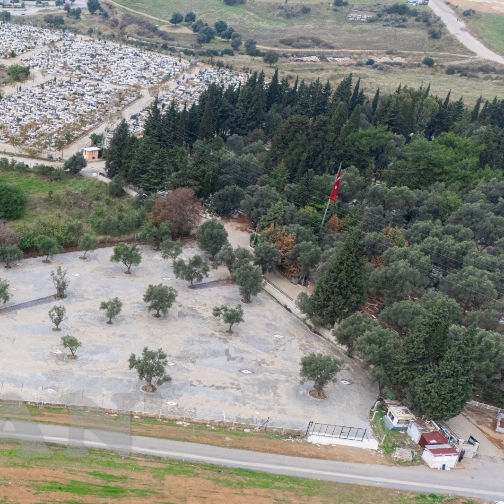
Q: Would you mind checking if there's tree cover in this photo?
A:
Yes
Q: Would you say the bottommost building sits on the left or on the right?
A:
right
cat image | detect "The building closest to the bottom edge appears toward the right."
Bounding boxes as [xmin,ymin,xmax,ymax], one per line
[418,438,462,469]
